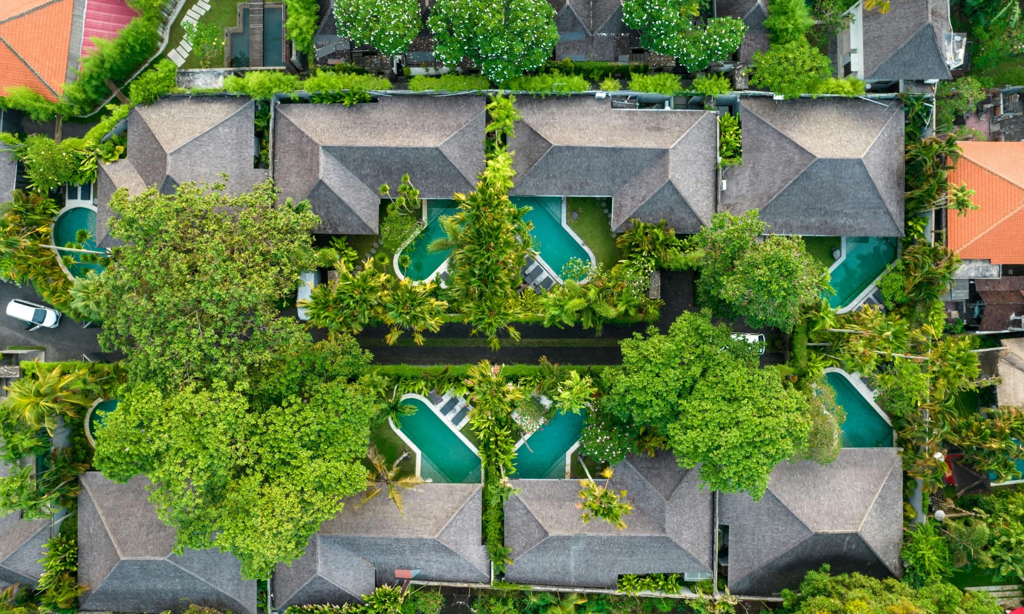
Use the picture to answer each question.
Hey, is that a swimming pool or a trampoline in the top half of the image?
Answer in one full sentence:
What appears in the top half of the image is a swimming pool.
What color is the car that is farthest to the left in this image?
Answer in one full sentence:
The car that is farthest to the left is white.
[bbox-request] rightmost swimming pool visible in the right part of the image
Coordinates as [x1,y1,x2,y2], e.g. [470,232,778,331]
[990,432,1024,485]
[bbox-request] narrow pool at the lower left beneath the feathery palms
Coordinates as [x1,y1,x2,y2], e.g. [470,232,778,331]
[32,427,51,496]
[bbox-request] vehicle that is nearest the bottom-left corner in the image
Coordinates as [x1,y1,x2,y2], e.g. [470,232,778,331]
[8,298,66,334]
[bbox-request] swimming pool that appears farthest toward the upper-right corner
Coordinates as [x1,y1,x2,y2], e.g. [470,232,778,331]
[806,237,905,319]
